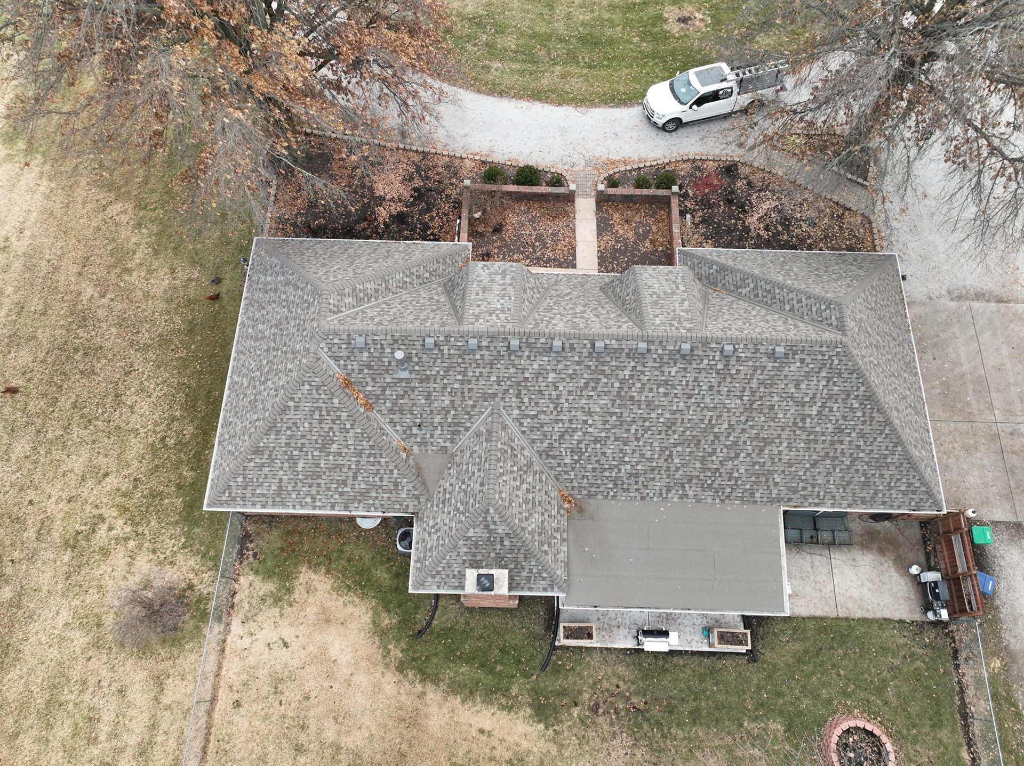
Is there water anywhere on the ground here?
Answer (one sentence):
No, no water is visible.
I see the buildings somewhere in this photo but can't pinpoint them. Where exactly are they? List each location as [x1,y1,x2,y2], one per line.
[203,237,946,615]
